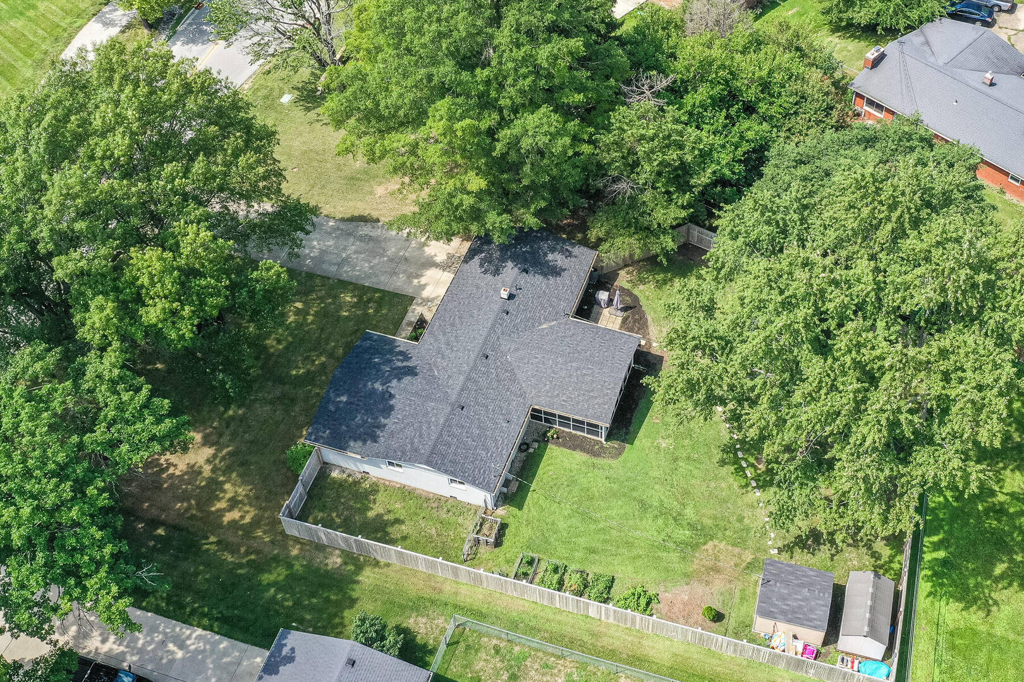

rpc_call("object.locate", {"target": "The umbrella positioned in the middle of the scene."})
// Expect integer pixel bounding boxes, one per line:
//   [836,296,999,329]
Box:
[608,289,624,318]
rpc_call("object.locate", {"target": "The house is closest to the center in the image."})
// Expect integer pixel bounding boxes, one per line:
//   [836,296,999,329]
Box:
[304,224,659,516]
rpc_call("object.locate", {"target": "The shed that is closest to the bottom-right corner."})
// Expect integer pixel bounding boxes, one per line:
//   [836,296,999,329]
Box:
[837,573,896,658]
